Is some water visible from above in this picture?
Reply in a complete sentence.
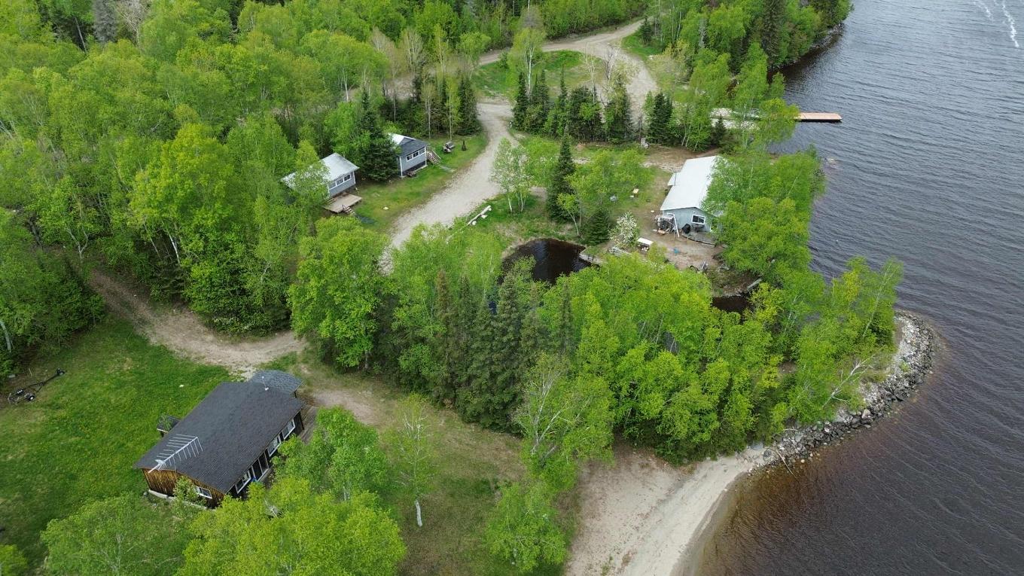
Yes, there is water in the image.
